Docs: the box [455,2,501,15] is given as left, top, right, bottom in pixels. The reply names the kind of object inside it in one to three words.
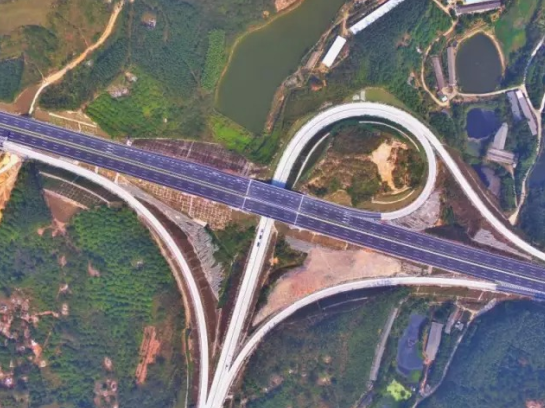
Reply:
barn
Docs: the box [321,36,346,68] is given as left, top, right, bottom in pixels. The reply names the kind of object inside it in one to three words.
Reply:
building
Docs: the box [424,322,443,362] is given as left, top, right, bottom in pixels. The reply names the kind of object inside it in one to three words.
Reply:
shed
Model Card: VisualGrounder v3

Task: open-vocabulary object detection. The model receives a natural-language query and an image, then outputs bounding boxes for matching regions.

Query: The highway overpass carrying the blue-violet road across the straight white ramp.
[243,180,306,226]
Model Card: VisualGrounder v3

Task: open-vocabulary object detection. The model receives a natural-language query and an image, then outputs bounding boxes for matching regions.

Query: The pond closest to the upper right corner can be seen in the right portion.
[455,32,502,93]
